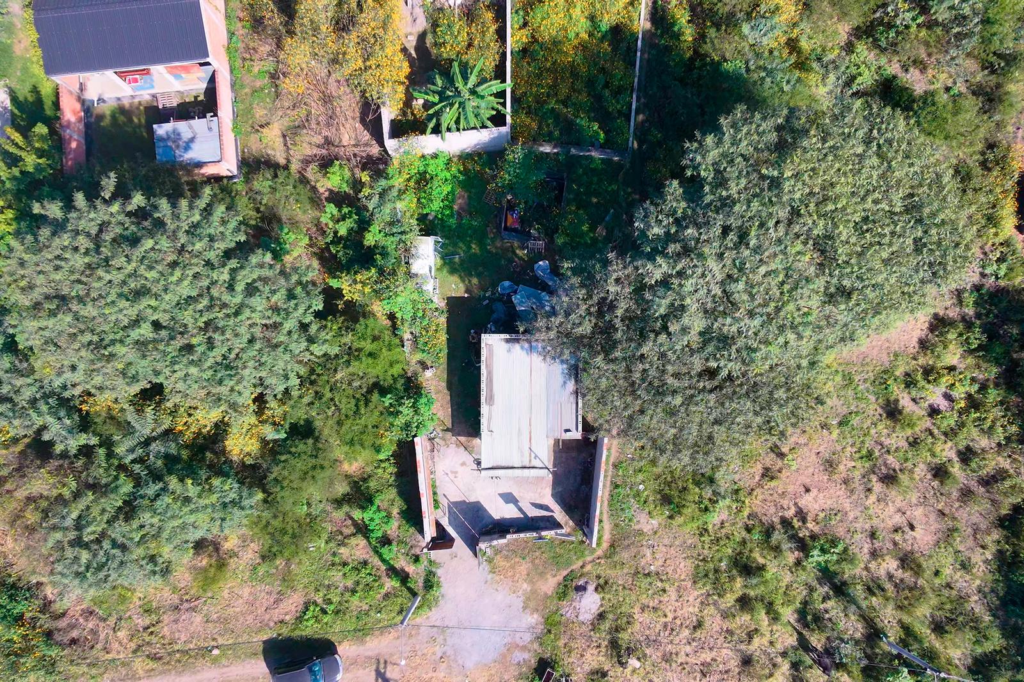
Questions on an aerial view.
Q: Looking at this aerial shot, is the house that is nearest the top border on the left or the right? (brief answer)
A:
left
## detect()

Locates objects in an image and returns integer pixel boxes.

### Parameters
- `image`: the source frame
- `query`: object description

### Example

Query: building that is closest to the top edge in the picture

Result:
[33,0,232,105]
